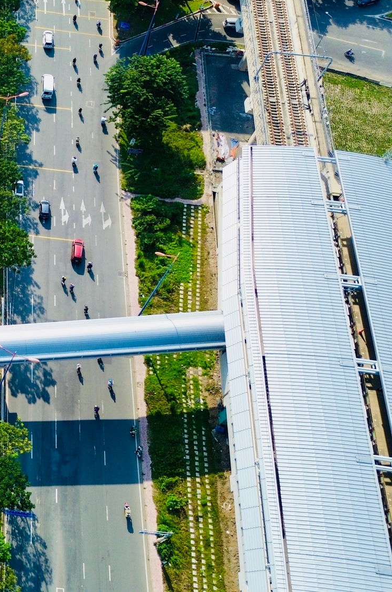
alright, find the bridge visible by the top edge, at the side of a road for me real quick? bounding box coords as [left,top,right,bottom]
[224,0,341,212]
